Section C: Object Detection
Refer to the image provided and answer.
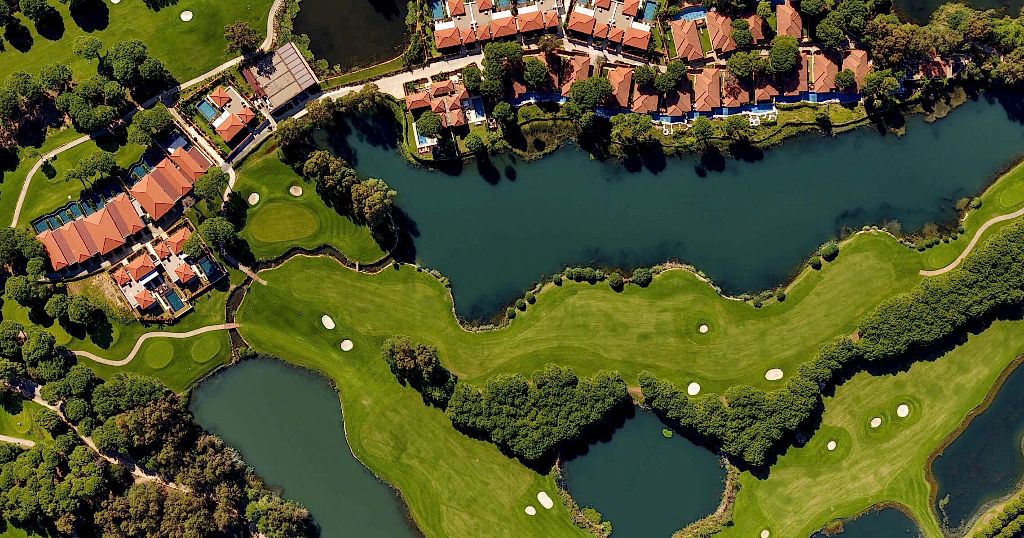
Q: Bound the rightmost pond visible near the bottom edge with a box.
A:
[932,364,1024,533]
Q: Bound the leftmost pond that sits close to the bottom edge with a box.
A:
[191,357,426,538]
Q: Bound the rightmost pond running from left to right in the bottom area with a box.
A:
[811,505,924,538]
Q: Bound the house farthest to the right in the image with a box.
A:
[904,60,953,81]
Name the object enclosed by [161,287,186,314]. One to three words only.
swimming pool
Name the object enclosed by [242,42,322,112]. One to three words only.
building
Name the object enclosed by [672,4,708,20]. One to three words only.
swimming pool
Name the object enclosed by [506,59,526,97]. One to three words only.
house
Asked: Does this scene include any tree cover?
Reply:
Yes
